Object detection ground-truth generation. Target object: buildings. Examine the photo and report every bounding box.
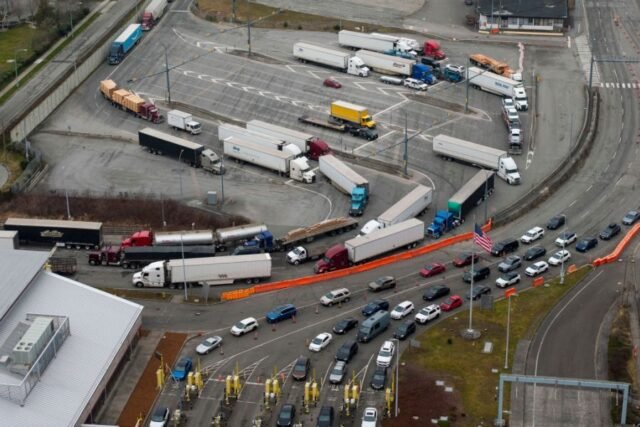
[472,0,562,31]
[0,249,148,427]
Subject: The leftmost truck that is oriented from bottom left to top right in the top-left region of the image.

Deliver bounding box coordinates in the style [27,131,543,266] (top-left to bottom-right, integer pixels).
[109,25,140,63]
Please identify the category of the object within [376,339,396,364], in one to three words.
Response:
vehicle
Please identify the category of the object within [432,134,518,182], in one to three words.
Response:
truck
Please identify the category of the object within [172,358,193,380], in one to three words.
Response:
car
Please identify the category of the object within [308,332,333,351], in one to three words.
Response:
car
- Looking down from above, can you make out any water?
No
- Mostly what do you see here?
paved ground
